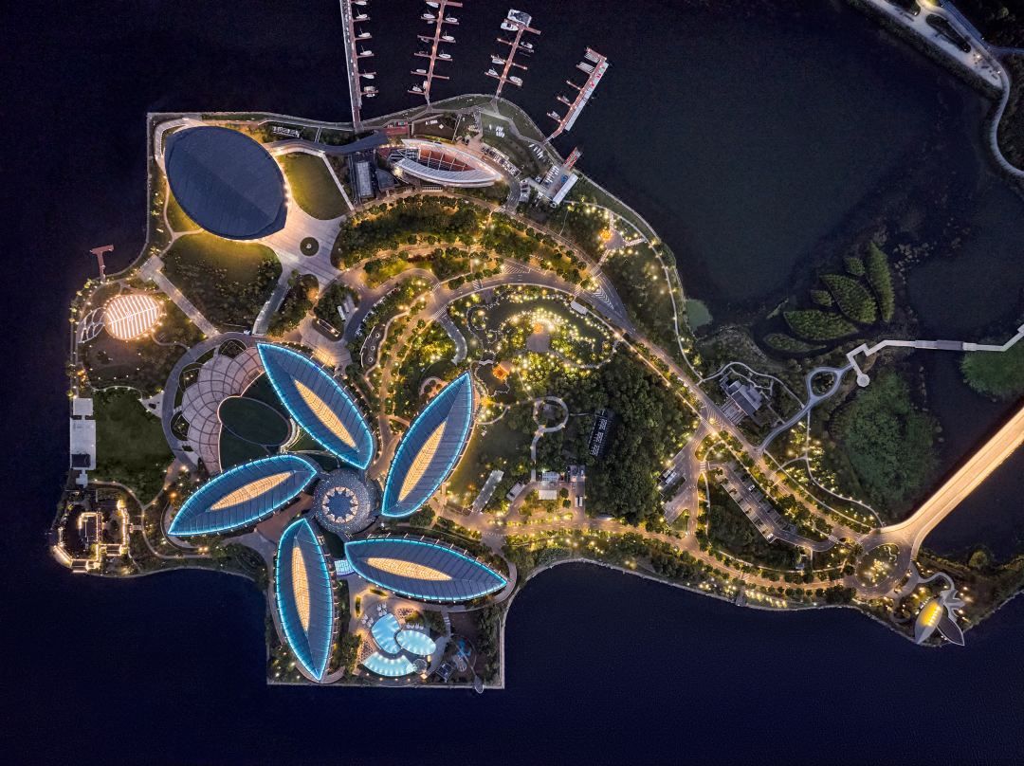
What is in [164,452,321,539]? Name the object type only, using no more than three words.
building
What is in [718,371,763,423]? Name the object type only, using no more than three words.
house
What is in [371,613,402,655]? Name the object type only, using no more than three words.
swimming pool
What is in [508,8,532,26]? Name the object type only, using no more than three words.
boat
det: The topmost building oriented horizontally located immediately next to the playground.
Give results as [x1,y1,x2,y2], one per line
[341,535,510,604]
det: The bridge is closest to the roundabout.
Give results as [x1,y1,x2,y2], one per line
[874,412,1024,559]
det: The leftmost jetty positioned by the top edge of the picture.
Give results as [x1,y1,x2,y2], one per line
[339,0,378,125]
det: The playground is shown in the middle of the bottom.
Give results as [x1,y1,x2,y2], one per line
[449,612,483,664]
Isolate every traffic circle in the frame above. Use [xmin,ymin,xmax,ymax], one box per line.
[842,530,913,600]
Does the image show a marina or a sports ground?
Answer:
marina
